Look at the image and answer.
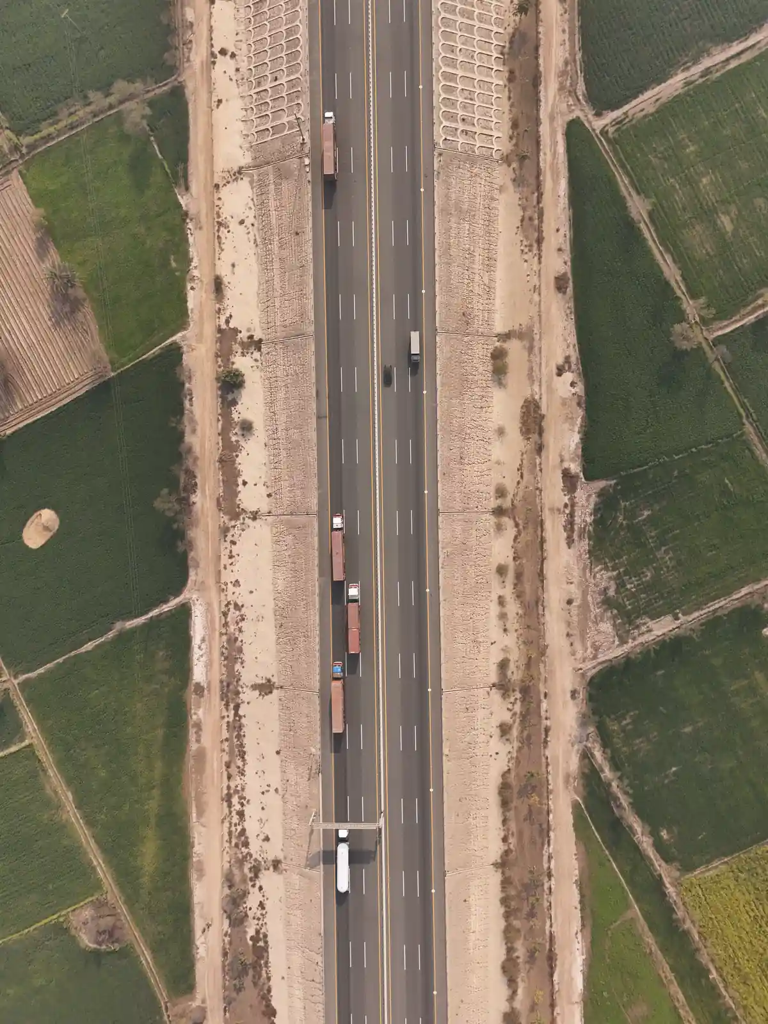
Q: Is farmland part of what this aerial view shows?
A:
Yes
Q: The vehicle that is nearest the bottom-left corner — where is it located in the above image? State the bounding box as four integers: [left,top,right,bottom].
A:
[337,828,350,891]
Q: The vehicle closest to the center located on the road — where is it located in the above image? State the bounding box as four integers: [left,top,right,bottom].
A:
[331,513,345,580]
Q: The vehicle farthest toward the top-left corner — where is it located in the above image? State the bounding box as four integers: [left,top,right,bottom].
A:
[323,113,335,181]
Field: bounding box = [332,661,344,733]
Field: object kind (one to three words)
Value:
vehicle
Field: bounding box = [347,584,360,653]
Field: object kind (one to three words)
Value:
vehicle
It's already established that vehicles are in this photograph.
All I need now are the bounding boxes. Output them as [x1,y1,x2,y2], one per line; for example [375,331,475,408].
[337,828,350,891]
[331,513,345,580]
[323,113,335,181]
[384,365,392,385]
[332,661,344,733]
[410,332,420,364]
[347,584,360,653]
